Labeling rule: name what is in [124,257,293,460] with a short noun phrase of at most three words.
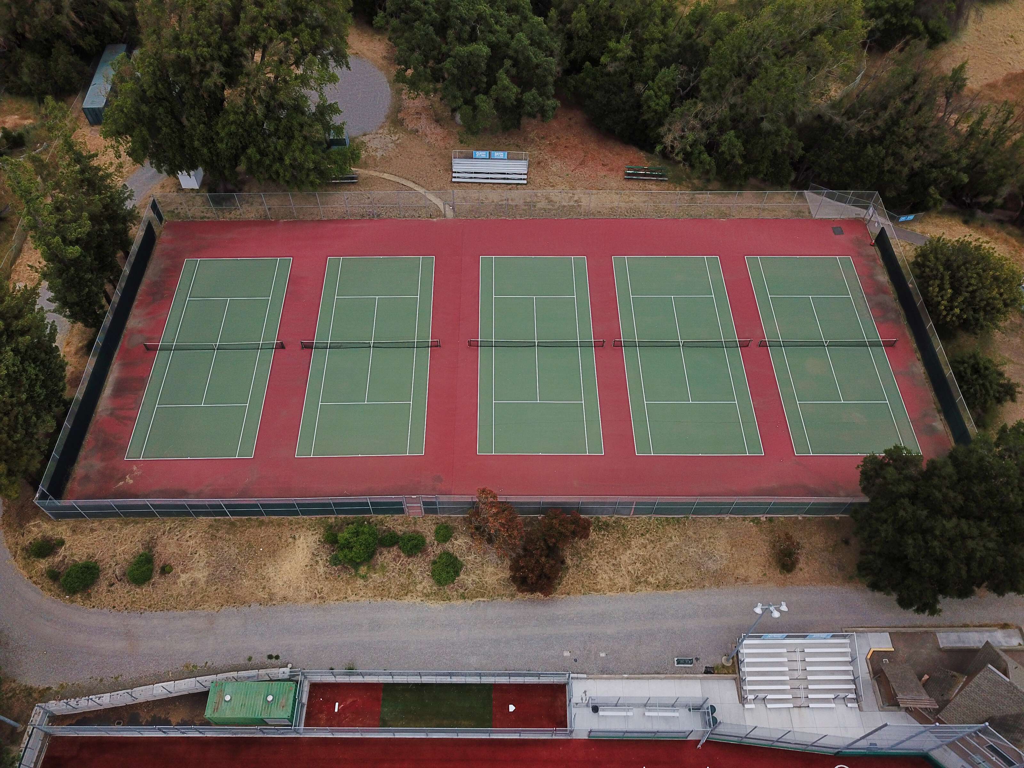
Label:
tennis court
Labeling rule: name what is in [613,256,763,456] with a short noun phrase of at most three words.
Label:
tennis court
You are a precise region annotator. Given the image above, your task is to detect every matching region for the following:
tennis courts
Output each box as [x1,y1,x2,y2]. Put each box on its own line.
[124,257,293,460]
[296,256,434,457]
[477,255,604,456]
[745,256,922,456]
[613,256,763,456]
